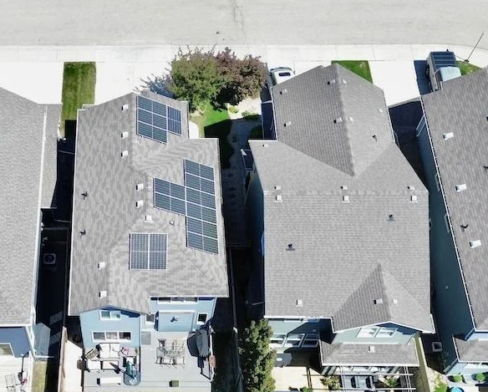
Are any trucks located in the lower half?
No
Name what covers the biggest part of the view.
buildings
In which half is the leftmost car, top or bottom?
top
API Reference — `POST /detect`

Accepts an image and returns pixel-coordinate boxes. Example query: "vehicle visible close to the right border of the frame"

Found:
[424,50,467,91]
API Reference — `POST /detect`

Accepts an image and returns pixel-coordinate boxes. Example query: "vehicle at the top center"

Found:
[272,64,301,89]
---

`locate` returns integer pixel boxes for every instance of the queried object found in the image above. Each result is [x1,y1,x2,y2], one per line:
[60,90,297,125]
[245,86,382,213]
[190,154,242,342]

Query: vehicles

[424,50,467,91]
[272,64,301,89]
